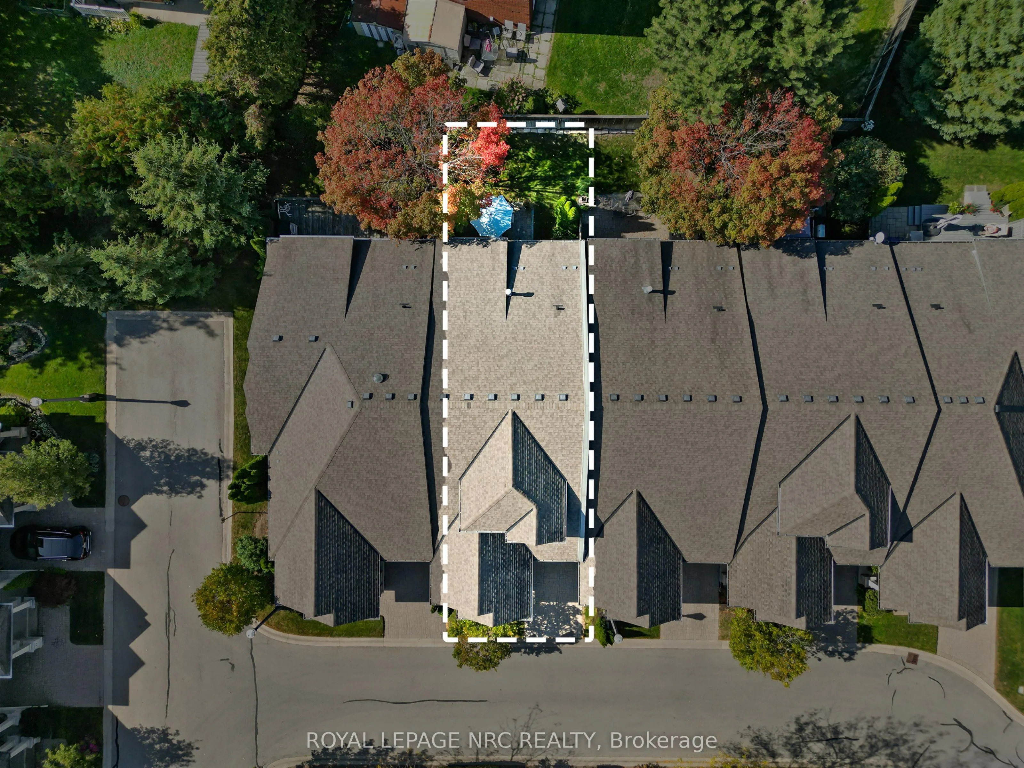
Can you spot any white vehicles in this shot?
No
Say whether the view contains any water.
No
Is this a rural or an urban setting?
urban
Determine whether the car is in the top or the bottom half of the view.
bottom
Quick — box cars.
[10,522,96,564]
